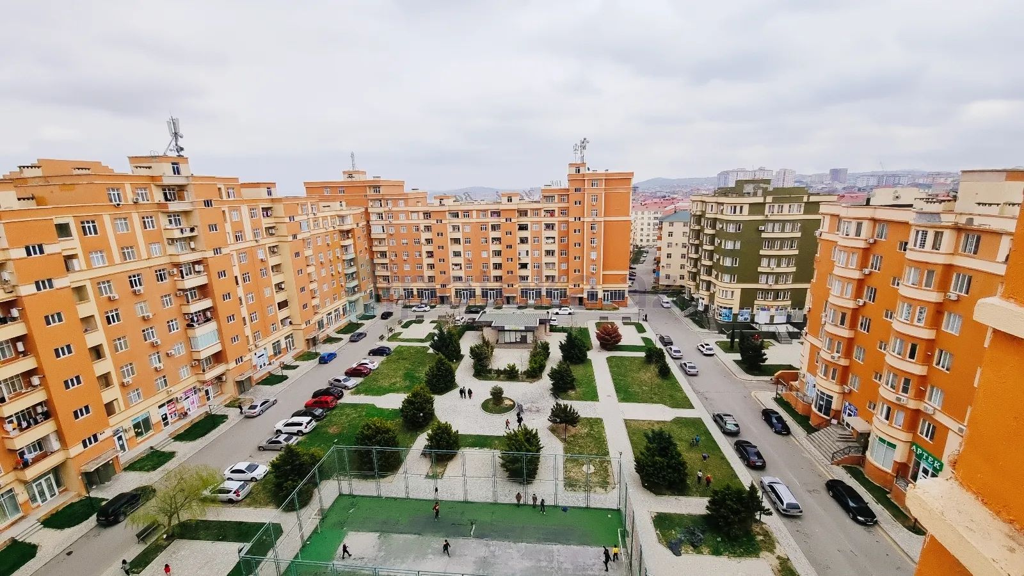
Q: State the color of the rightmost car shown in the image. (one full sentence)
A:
In this view, the rightmost car is black.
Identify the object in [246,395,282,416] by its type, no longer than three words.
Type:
car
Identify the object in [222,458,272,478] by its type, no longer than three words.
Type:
car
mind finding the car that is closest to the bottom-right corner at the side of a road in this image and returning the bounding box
[823,475,879,522]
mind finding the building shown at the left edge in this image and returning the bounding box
[0,154,382,551]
